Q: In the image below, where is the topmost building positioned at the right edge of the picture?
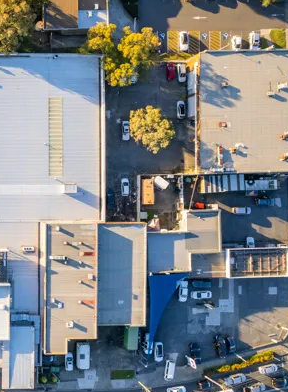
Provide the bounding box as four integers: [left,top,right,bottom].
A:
[190,50,288,172]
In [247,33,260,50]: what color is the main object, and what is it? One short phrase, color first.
white vehicle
